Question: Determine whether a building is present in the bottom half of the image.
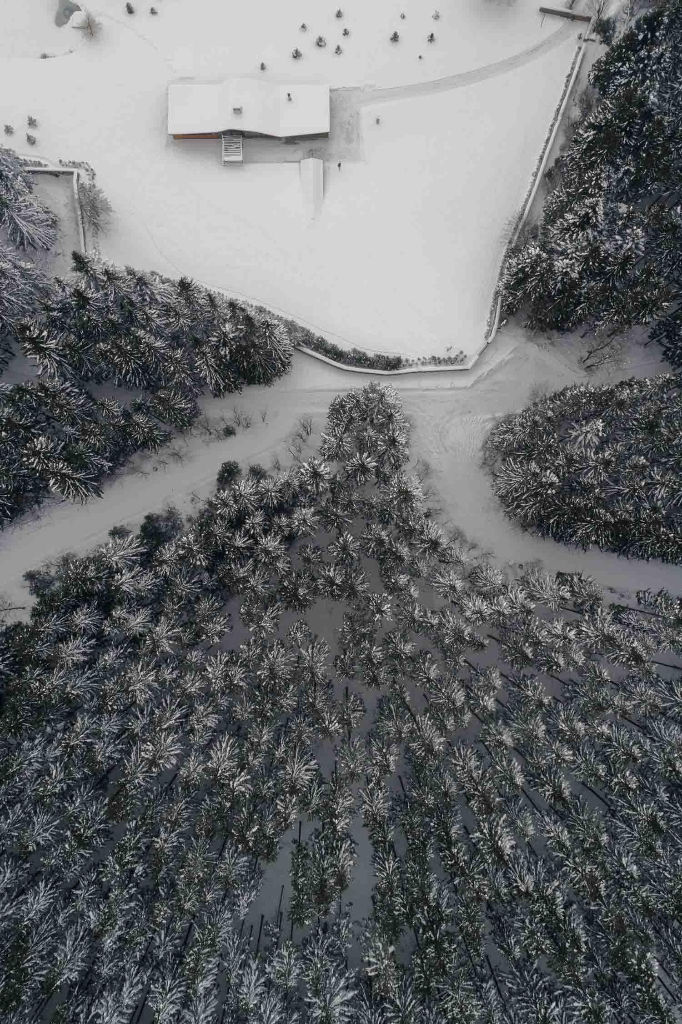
No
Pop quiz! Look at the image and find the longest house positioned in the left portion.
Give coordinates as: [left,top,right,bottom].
[168,79,330,139]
